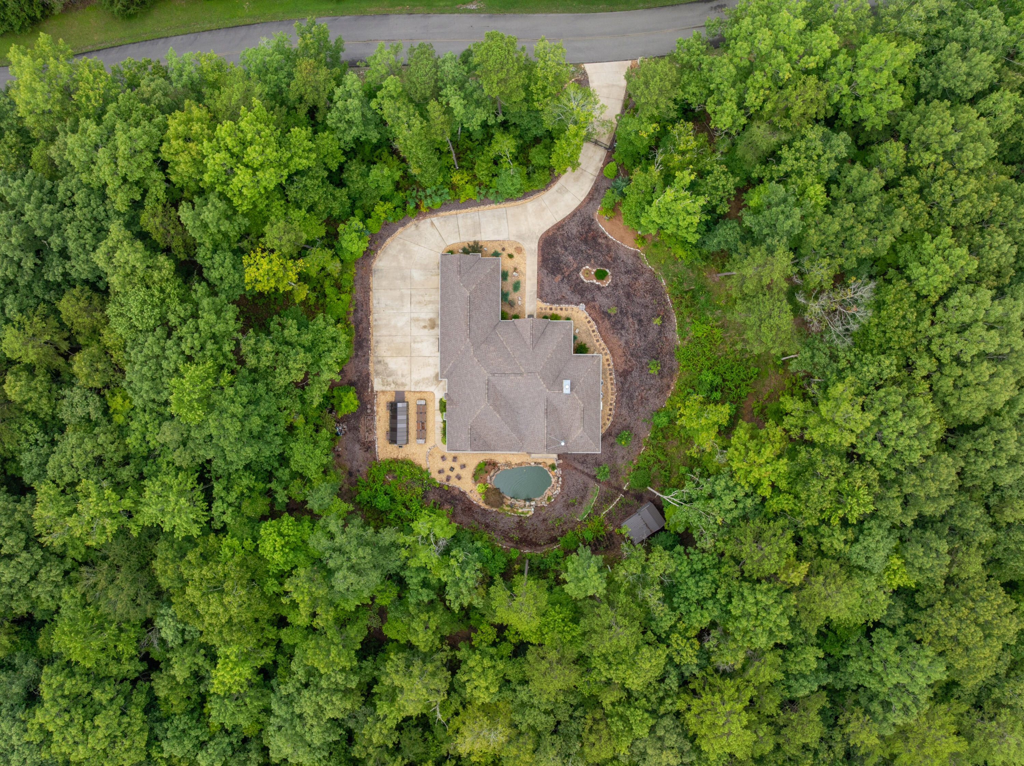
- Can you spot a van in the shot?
No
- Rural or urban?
rural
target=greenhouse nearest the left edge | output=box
[389,402,410,445]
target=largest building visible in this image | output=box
[438,253,602,461]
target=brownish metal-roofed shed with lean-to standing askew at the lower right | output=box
[621,501,661,545]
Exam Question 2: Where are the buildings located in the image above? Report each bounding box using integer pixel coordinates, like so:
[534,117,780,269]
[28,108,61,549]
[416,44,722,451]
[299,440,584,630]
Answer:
[389,402,410,445]
[621,501,661,545]
[438,253,602,461]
